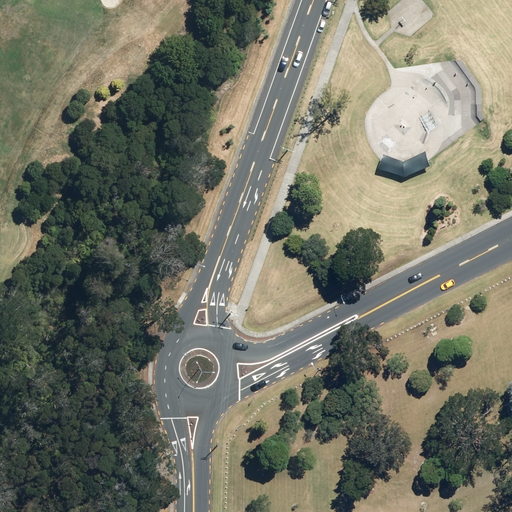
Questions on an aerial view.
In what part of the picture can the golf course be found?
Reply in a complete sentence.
The golf course sits in the top left section of the image.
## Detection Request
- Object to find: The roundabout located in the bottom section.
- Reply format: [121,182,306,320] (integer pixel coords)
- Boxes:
[179,348,220,389]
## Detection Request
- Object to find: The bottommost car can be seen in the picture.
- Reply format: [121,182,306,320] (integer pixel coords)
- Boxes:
[251,379,266,391]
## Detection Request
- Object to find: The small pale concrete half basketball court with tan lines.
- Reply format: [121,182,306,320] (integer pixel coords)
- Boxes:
[388,0,433,36]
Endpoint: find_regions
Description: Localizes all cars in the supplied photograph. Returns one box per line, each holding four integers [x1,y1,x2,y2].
[408,272,422,284]
[232,343,248,350]
[293,50,304,67]
[322,0,332,17]
[317,18,326,34]
[440,279,456,290]
[278,54,288,71]
[251,379,266,391]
